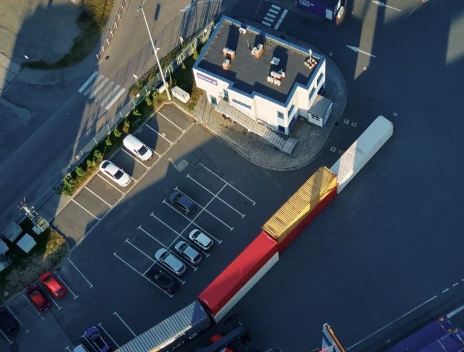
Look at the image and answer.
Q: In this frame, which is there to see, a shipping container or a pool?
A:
shipping container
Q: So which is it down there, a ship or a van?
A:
van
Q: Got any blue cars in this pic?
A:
Yes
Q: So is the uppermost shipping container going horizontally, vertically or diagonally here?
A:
diagonally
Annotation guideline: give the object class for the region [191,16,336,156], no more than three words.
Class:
building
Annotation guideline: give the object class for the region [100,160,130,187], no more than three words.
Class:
car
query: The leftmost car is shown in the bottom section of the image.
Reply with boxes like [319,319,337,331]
[0,308,20,338]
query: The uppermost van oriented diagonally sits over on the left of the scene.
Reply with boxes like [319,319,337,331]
[122,131,153,162]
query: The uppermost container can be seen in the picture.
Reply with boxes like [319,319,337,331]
[324,110,389,183]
